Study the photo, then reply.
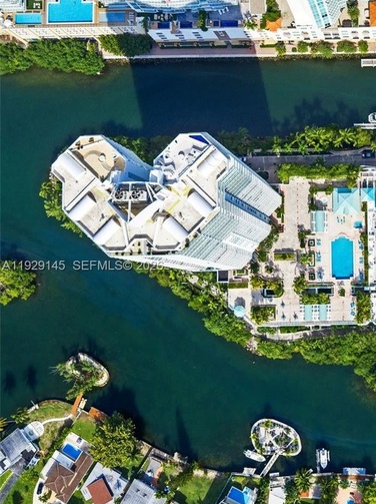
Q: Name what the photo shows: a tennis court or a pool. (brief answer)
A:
pool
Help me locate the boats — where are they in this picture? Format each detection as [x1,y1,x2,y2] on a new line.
[241,447,267,460]
[320,446,328,469]
[79,396,89,410]
[367,112,376,122]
